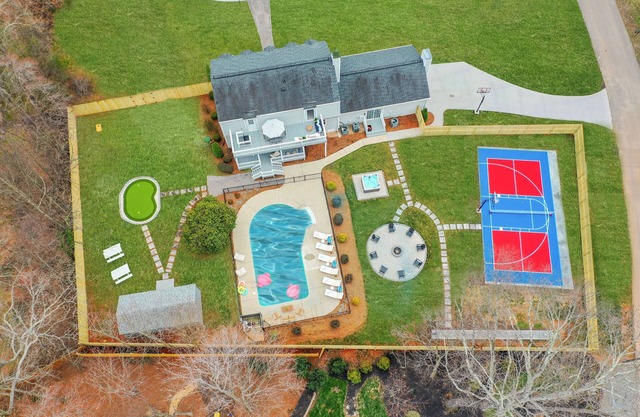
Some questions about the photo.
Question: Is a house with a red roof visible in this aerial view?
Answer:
No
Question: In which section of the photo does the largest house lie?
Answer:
top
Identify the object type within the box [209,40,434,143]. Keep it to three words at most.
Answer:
house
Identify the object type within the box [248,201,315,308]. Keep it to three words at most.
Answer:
swimming pool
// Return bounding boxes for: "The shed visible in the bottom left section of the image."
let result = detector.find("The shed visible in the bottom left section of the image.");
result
[115,284,202,334]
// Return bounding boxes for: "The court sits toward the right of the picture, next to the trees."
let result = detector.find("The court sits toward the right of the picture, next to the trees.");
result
[477,148,574,290]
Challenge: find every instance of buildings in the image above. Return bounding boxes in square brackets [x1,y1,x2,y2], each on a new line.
[209,40,434,143]
[115,284,202,334]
